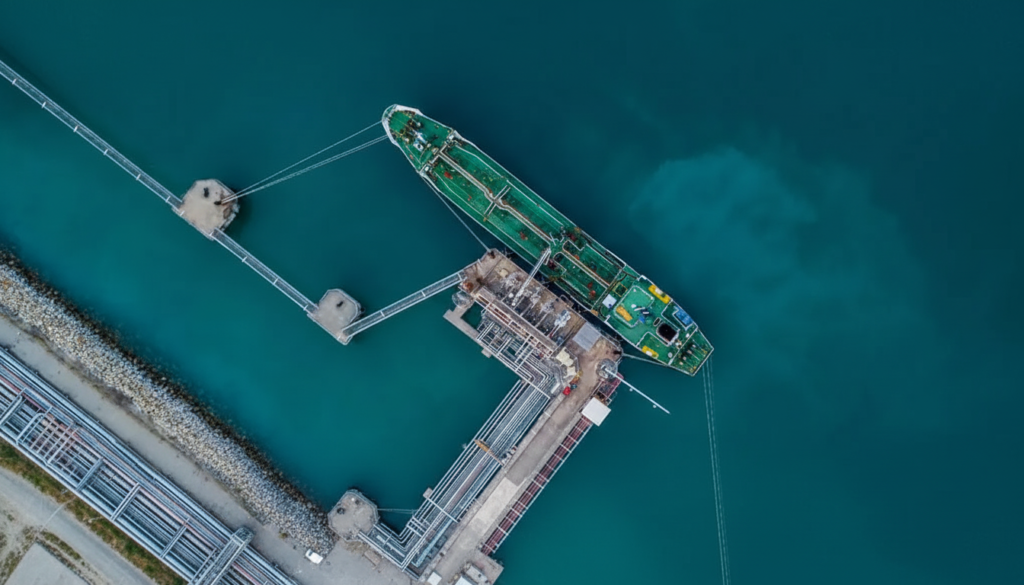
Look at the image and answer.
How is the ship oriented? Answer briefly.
diagonally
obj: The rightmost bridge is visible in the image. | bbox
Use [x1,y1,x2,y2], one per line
[406,393,585,585]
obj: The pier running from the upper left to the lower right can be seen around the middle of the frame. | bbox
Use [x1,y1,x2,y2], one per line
[445,306,521,381]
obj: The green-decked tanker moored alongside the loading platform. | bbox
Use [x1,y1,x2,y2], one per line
[376,105,714,375]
